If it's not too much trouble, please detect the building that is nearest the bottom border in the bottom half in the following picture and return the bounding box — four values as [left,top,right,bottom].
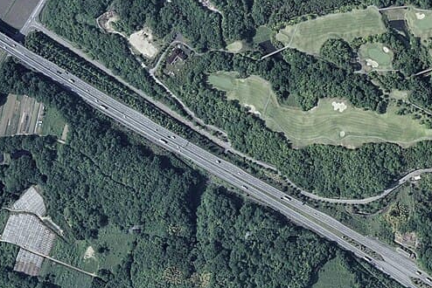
[14,249,44,275]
